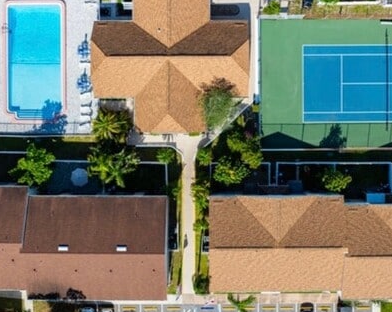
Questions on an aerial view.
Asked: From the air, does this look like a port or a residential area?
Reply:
residential area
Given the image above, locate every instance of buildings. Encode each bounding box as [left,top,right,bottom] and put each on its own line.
[18,193,171,301]
[91,0,249,131]
[208,189,351,292]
